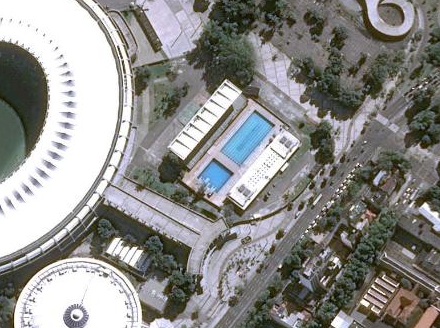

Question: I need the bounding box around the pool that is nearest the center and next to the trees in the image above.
[182,101,300,215]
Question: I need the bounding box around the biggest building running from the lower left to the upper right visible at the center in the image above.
[228,129,301,211]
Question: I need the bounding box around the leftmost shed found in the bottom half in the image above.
[106,237,149,273]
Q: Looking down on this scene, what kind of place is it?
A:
sports ground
